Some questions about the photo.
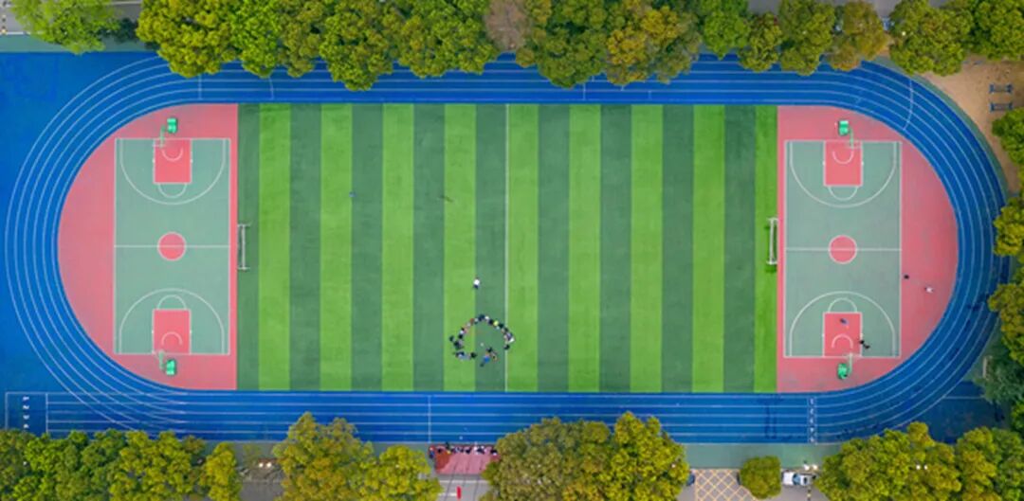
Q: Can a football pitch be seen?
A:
Yes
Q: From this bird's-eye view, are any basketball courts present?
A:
Yes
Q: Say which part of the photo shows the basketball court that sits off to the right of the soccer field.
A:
right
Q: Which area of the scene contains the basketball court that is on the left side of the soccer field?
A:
left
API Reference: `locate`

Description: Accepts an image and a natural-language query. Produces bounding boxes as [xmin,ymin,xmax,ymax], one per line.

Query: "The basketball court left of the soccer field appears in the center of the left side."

[58,103,238,390]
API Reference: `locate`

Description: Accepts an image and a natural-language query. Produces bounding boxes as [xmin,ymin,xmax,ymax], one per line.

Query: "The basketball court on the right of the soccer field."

[777,106,958,392]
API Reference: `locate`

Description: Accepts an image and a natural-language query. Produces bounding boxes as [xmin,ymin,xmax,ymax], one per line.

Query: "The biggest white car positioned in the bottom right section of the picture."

[786,473,819,490]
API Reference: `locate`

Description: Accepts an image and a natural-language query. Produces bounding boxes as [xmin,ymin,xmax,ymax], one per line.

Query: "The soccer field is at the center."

[236,103,778,392]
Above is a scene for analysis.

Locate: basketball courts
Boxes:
[777,106,958,392]
[58,103,238,390]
